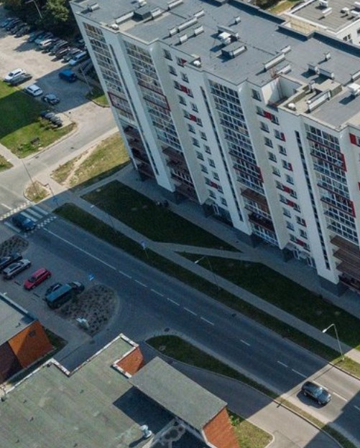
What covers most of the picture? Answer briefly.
buildings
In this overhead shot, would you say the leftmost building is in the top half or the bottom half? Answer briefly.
bottom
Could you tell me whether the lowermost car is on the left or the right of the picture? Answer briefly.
right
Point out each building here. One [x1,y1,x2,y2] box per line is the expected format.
[69,0,360,294]
[0,293,51,377]
[0,335,243,448]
